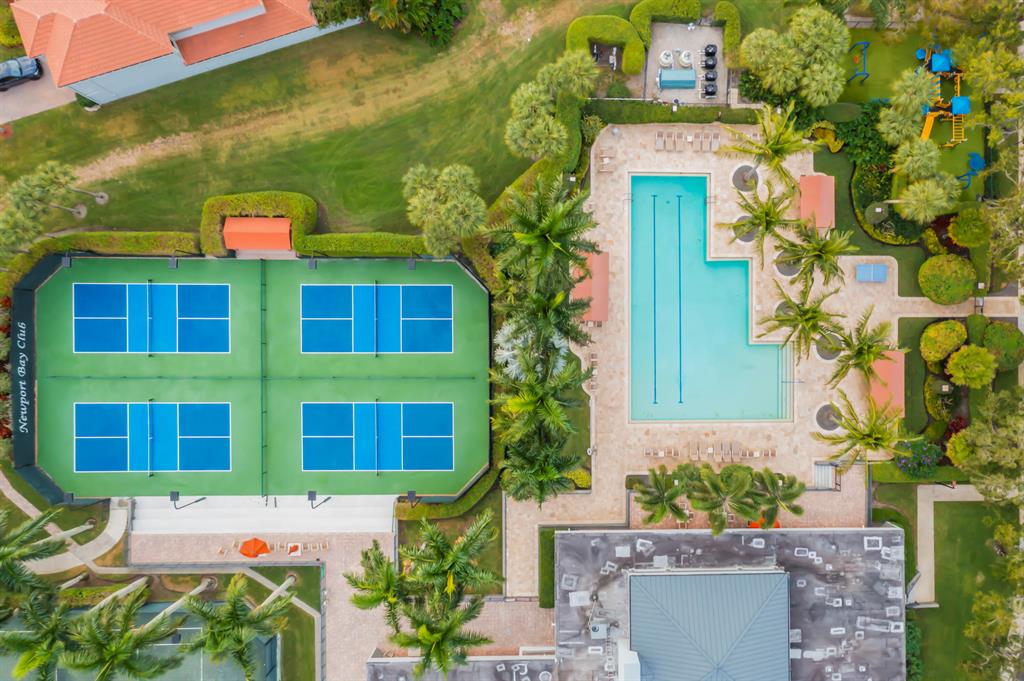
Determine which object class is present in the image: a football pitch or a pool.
pool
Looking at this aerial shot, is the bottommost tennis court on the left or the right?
left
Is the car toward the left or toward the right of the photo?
left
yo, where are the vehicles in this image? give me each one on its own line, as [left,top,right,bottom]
[0,51,41,88]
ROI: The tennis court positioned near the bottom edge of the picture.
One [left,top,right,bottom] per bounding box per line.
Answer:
[0,604,276,681]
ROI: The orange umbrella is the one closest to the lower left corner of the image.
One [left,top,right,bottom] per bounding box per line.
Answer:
[242,532,270,560]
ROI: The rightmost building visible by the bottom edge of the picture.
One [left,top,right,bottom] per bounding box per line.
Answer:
[556,530,905,681]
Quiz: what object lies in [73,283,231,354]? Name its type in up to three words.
sports court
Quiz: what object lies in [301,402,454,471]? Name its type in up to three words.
sports court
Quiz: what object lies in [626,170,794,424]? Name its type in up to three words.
swimming pool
